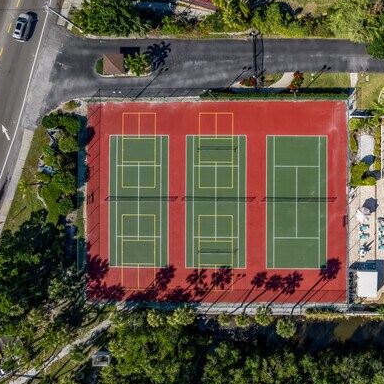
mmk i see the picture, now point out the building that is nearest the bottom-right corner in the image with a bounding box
[356,269,378,298]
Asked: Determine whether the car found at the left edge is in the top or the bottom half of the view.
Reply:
top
